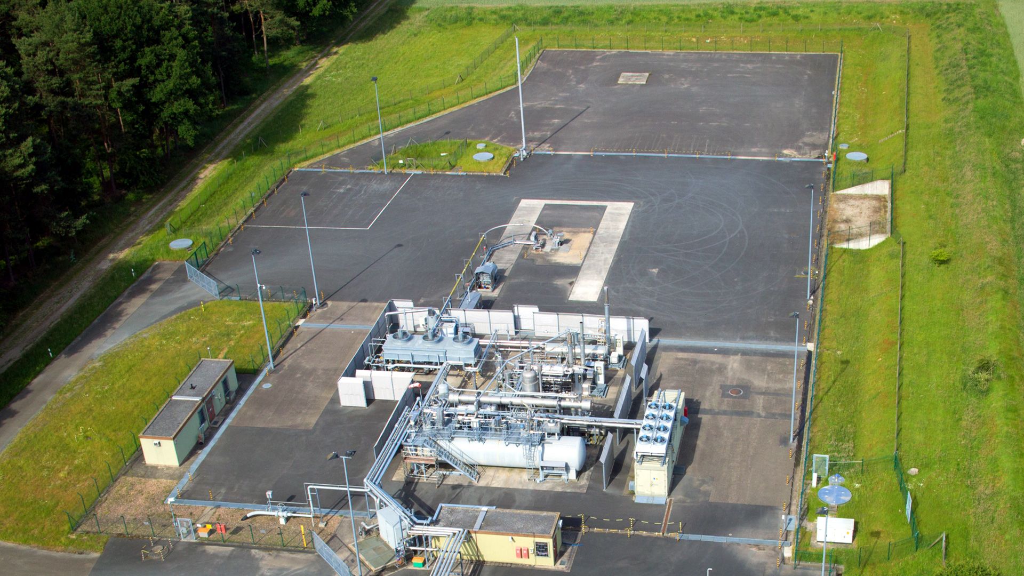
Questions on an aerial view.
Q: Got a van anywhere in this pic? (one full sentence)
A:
No, the photo shows no van.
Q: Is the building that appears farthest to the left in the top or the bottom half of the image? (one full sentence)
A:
The bottom half of the photo is where the building that appears farthest to the left is.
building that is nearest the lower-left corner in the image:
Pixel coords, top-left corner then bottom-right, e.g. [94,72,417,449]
[135,360,238,467]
